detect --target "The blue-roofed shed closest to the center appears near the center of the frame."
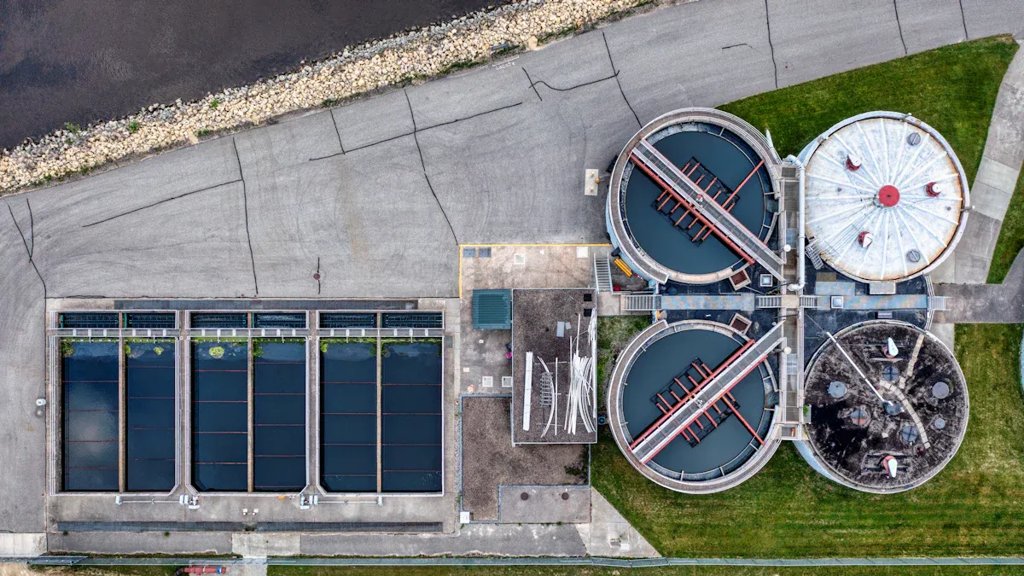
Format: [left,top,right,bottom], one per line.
[473,289,511,330]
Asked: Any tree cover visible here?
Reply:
No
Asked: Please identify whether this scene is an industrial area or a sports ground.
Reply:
industrial area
